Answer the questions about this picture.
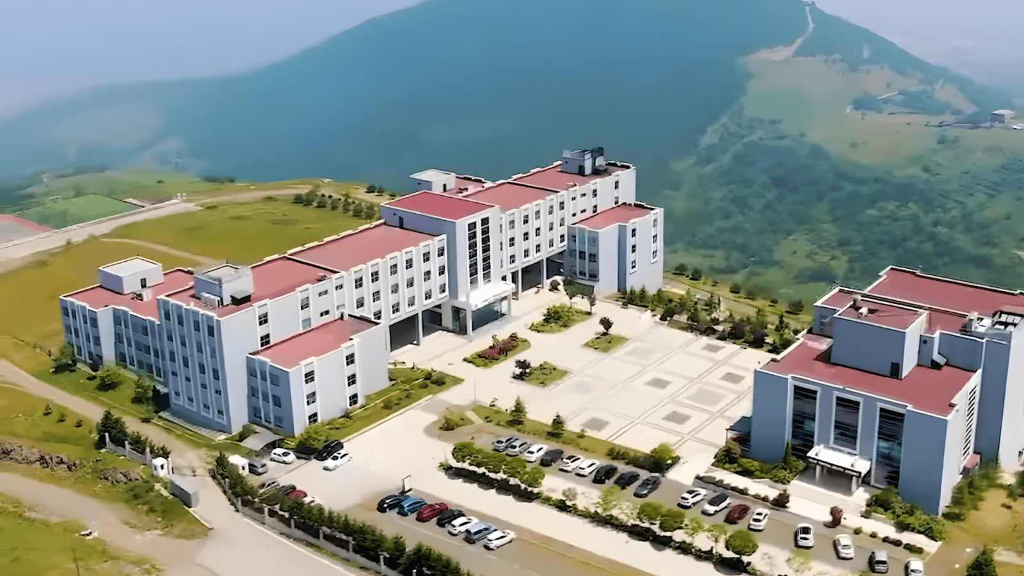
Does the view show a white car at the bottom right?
Yes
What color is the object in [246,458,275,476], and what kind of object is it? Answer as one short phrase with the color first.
gray car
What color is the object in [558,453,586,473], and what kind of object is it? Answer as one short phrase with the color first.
white car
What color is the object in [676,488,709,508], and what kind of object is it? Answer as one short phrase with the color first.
white car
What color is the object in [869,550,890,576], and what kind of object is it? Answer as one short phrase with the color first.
gray car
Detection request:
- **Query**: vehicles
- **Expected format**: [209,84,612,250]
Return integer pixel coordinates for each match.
[612,471,643,490]
[481,532,517,553]
[375,495,410,515]
[315,442,345,460]
[573,460,601,478]
[904,558,925,576]
[446,518,479,538]
[521,445,551,463]
[395,499,427,518]
[796,524,814,548]
[869,550,890,576]
[488,436,518,454]
[434,511,468,530]
[246,458,275,476]
[322,452,353,472]
[537,449,566,468]
[413,503,450,524]
[676,488,709,508]
[634,477,661,498]
[835,536,854,560]
[748,509,769,531]
[558,453,586,473]
[461,523,500,545]
[702,490,729,516]
[589,465,620,484]
[502,440,533,458]
[723,506,751,525]
[275,482,305,498]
